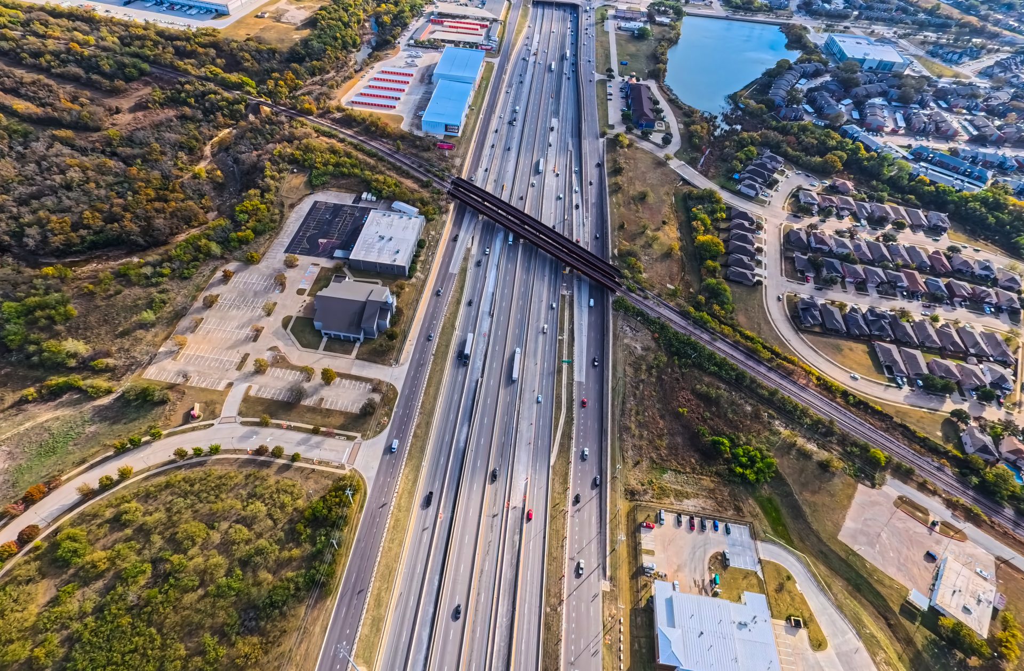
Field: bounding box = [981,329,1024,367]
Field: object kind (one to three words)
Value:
house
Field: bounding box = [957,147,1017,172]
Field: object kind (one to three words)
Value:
building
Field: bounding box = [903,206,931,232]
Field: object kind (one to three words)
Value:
house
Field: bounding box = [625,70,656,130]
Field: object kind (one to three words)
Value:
building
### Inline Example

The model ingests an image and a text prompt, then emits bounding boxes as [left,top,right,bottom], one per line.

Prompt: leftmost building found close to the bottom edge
[651,579,782,671]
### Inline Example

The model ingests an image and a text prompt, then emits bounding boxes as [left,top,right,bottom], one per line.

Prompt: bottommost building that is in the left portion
[309,275,394,339]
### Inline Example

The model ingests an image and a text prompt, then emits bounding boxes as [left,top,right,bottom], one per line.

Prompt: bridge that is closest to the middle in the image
[448,176,622,296]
